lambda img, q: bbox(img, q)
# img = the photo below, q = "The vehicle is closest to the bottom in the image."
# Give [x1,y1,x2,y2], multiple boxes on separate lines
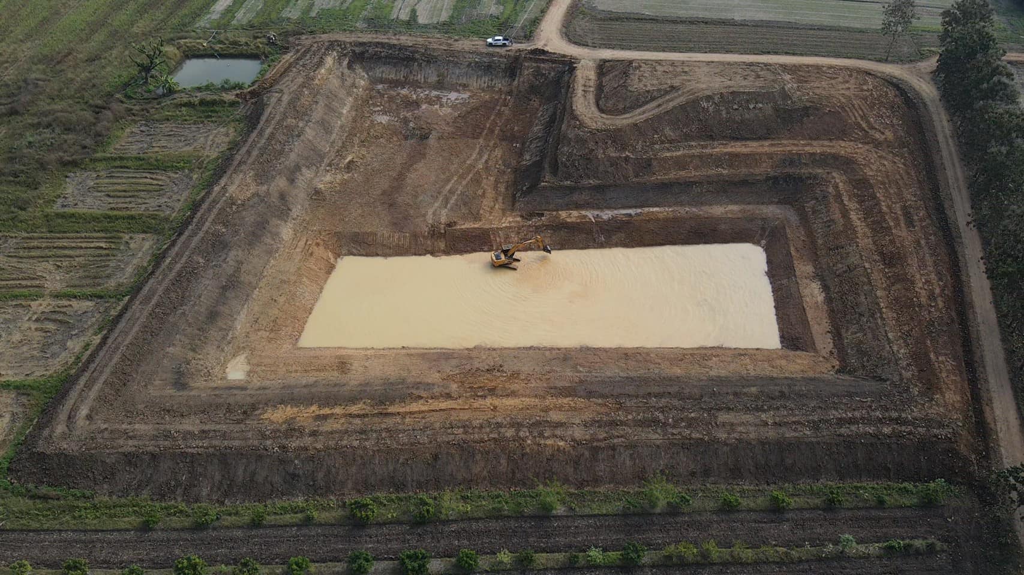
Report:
[485,234,550,273]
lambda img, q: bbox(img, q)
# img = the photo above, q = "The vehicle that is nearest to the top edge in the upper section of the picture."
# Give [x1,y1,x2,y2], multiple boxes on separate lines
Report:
[487,35,513,47]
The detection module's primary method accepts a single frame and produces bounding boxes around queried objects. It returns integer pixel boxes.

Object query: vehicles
[487,35,513,47]
[485,234,550,273]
